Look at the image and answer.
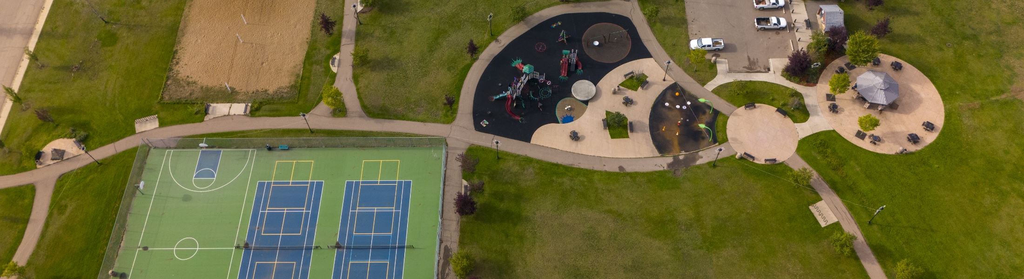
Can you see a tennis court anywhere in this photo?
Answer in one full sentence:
Yes, the frame does contain a tennis court.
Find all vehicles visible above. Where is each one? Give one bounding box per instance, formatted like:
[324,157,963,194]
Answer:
[753,0,786,10]
[754,17,788,30]
[690,38,725,51]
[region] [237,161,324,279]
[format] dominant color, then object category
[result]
blue tennis court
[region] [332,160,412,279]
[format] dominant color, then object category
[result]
blue tennis court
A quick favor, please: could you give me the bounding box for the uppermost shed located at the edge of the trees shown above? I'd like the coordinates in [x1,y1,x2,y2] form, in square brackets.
[815,5,848,34]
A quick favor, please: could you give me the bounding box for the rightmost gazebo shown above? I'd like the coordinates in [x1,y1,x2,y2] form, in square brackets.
[852,69,899,112]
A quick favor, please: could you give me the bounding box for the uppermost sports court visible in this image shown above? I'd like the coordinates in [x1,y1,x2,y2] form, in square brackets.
[159,0,315,102]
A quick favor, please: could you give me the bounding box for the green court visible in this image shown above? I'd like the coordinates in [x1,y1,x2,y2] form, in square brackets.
[111,146,443,279]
